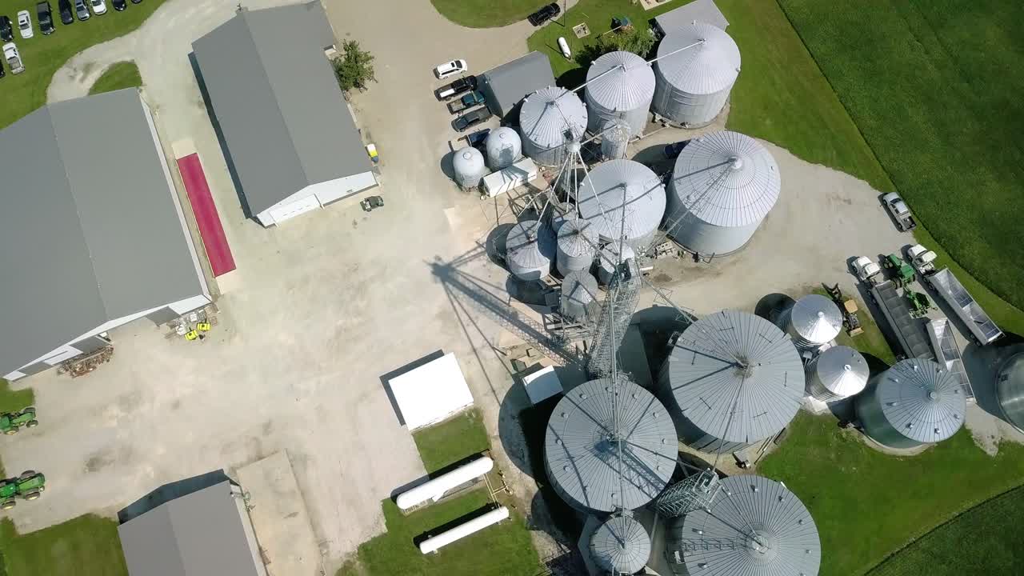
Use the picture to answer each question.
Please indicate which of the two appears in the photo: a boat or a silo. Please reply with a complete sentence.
The image shows a silo.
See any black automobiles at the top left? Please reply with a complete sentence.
Yes, a black automobile appears at the top left.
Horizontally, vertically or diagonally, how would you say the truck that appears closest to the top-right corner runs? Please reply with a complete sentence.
What the image shows is the truck that appears closest to the top-right corner lying diagonally.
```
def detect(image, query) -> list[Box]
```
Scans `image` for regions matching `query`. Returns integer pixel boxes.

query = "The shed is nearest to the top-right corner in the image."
[656,0,727,40]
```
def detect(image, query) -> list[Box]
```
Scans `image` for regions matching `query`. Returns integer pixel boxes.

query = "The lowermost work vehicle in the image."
[0,469,48,508]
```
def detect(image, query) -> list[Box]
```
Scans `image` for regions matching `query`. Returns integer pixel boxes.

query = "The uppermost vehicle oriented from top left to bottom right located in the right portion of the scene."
[879,190,921,236]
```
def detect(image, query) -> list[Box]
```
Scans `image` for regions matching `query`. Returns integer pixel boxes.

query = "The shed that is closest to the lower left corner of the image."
[117,480,266,576]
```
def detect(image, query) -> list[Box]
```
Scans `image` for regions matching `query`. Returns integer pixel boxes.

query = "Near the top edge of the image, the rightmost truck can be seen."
[523,1,563,27]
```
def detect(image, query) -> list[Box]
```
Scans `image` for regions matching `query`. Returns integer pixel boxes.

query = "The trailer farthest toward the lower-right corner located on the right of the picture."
[922,317,981,414]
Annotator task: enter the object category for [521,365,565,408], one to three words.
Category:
shed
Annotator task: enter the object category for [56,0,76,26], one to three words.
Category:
car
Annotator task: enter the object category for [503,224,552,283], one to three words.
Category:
silo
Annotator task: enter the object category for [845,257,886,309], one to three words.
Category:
truck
